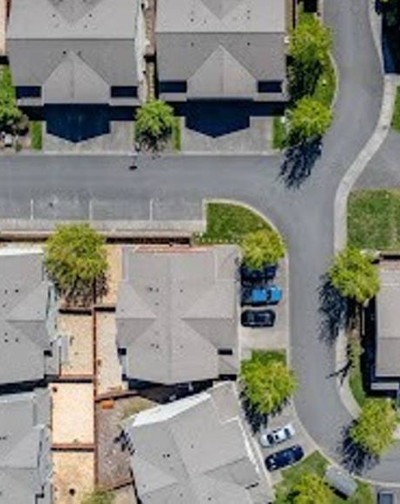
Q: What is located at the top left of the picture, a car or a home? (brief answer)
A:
home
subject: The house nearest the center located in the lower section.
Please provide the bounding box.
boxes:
[118,243,239,382]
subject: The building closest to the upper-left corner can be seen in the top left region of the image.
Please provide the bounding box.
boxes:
[7,0,147,106]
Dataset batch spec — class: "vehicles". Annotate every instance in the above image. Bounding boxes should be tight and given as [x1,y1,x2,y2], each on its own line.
[239,309,275,327]
[376,487,393,504]
[241,264,277,282]
[242,288,282,304]
[266,444,306,470]
[259,421,297,447]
